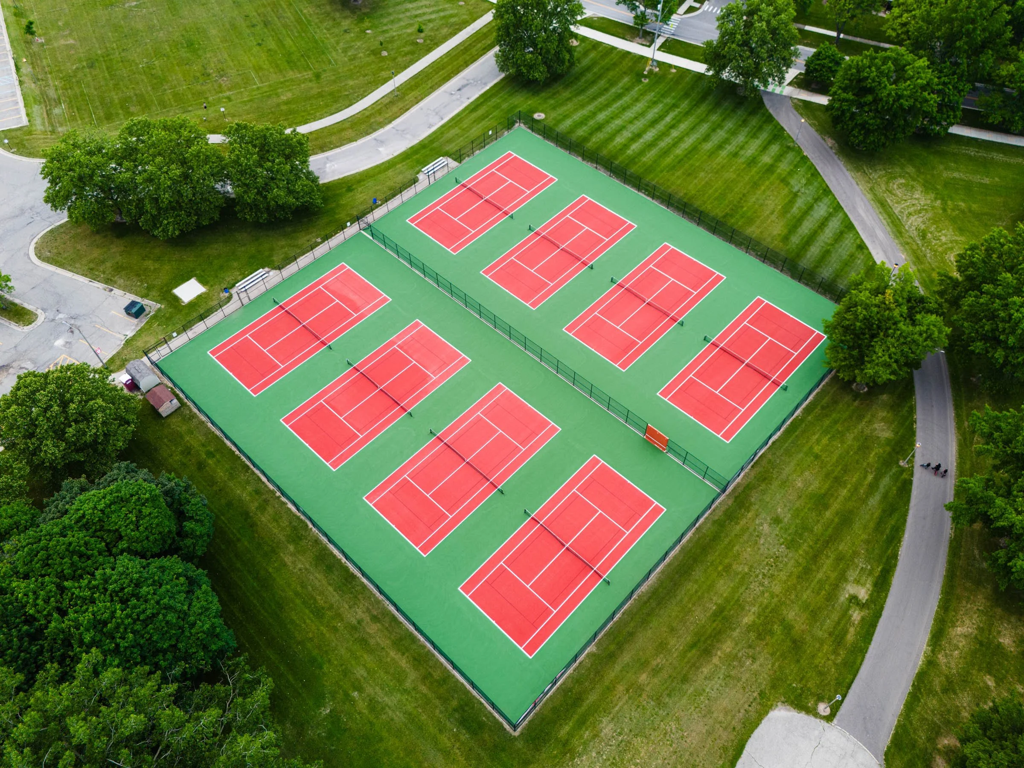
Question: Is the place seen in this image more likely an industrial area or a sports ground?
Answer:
sports ground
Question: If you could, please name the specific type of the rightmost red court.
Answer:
tennis court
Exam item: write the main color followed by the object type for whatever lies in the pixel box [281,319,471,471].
red tennis court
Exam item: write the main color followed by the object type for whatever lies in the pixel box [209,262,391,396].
red tennis court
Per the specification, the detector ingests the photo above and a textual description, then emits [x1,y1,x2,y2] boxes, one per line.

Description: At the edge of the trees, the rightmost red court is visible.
[658,297,825,442]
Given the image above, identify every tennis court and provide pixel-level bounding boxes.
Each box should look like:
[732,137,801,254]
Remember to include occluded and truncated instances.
[480,194,637,309]
[209,262,391,396]
[564,243,726,371]
[406,151,558,254]
[281,319,471,471]
[458,455,666,657]
[363,382,562,557]
[658,297,825,442]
